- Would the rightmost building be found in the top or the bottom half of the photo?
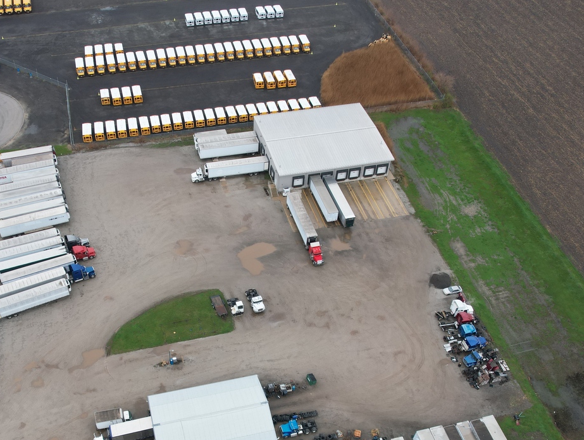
top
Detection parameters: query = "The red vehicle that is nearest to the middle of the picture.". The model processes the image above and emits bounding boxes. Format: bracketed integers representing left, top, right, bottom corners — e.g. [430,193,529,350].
[304,238,323,265]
